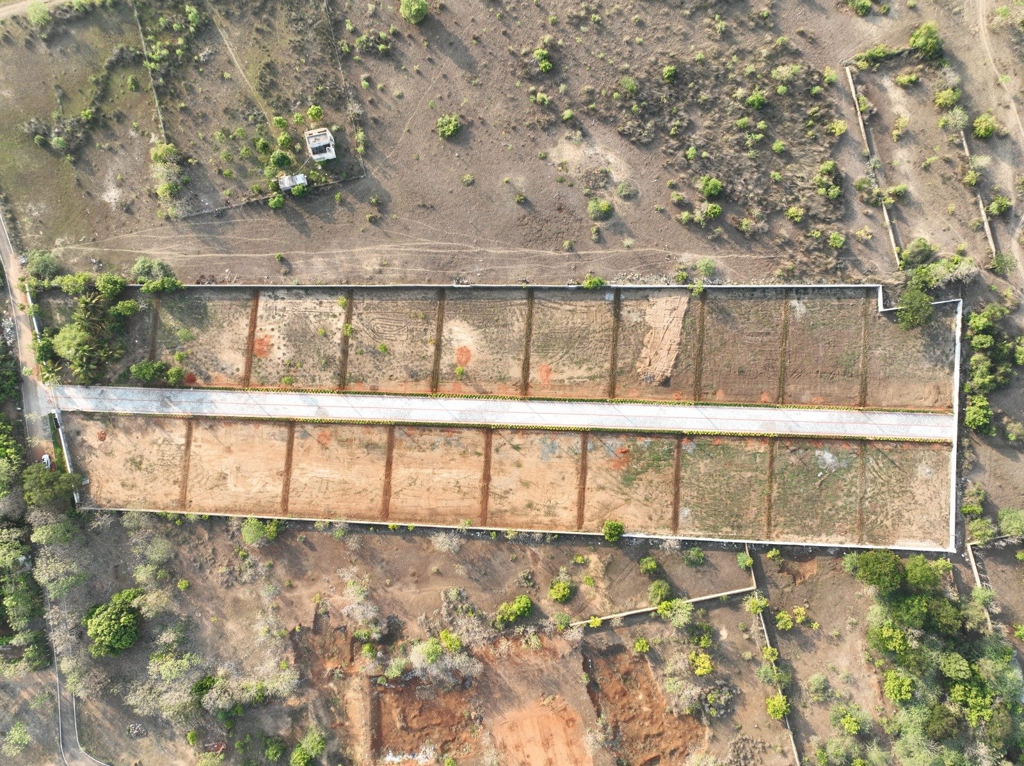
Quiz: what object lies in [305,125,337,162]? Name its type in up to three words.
house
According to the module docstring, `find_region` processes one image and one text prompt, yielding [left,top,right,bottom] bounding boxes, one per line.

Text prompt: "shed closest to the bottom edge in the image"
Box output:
[278,173,309,192]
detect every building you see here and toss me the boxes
[278,173,309,192]
[305,125,337,162]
